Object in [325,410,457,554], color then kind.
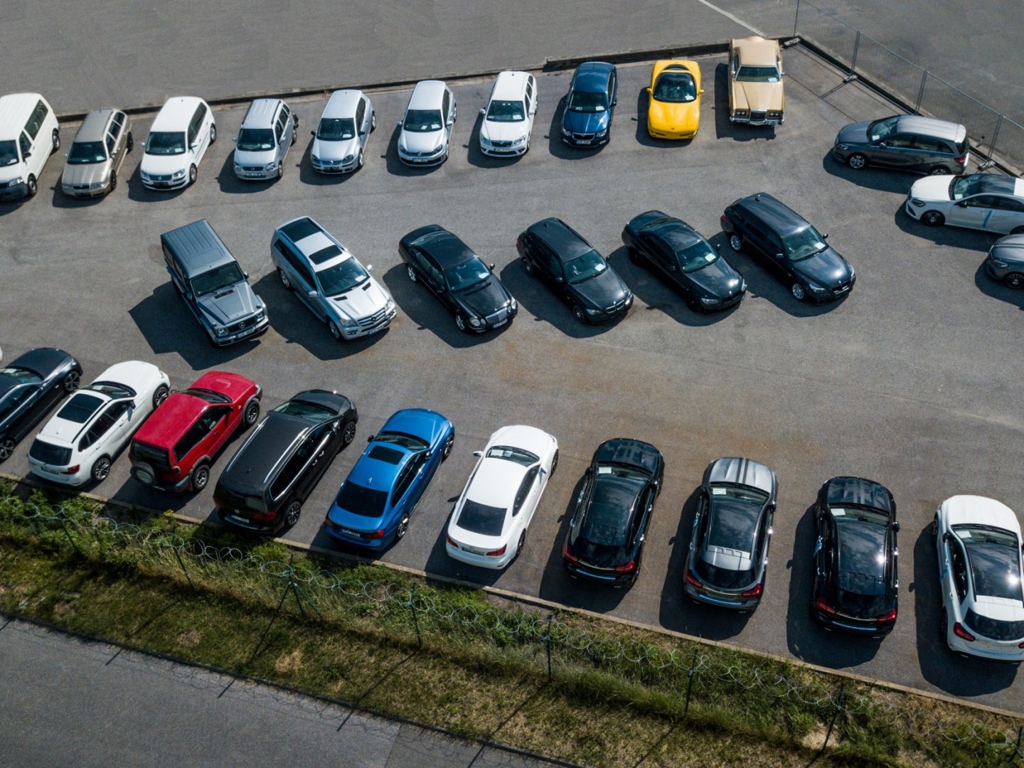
blue car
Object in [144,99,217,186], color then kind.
white car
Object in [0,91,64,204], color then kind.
white van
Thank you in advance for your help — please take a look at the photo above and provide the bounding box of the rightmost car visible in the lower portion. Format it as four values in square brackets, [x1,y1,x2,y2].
[936,498,1024,660]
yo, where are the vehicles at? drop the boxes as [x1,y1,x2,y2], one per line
[233,99,301,182]
[158,218,275,354]
[267,217,395,344]
[903,173,1024,236]
[325,410,457,554]
[685,459,780,610]
[0,91,64,204]
[561,62,619,146]
[396,225,517,335]
[936,498,1024,660]
[398,79,458,164]
[834,116,964,178]
[446,424,563,571]
[60,97,137,197]
[0,345,85,462]
[717,191,853,303]
[25,362,172,491]
[617,209,747,317]
[725,36,789,126]
[127,372,270,500]
[480,68,540,156]
[311,89,377,174]
[811,479,903,635]
[983,236,1024,290]
[645,63,707,139]
[144,99,217,186]
[512,216,632,326]
[562,438,659,584]
[210,389,361,541]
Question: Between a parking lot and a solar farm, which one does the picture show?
parking lot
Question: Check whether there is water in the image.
No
